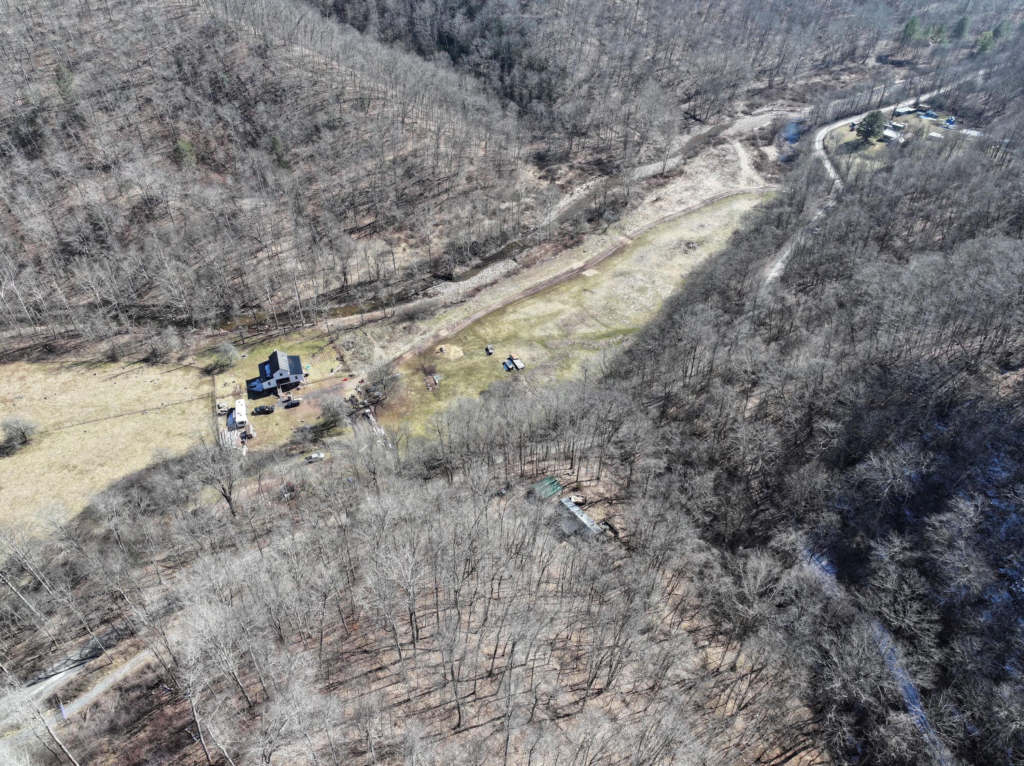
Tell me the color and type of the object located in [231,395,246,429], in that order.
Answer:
white vehicle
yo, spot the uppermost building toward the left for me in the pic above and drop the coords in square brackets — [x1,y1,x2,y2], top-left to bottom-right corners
[258,351,308,399]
